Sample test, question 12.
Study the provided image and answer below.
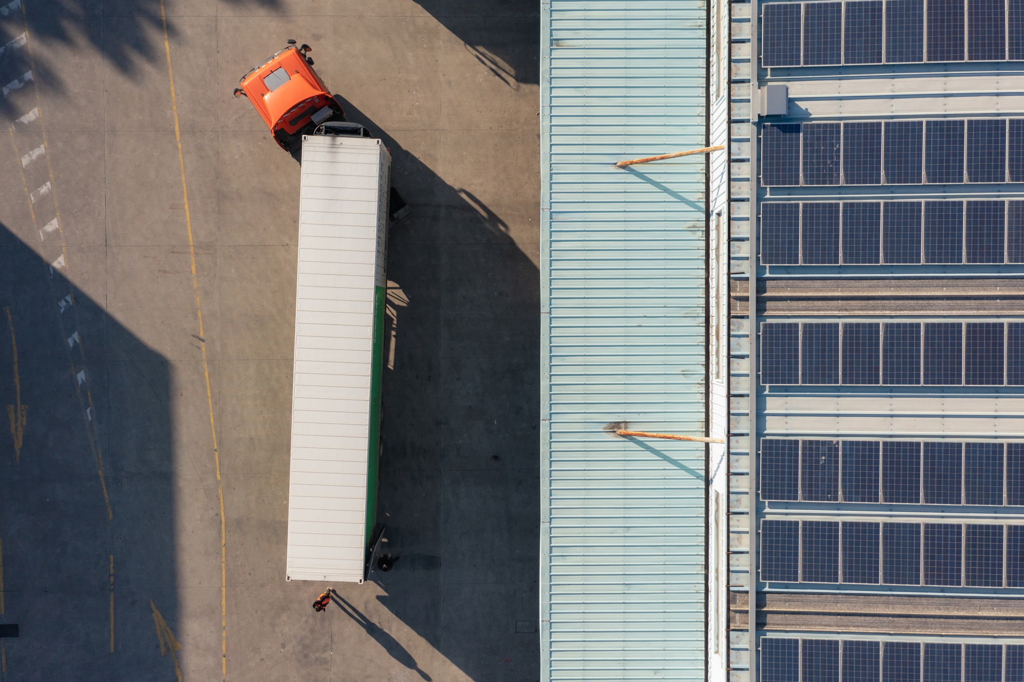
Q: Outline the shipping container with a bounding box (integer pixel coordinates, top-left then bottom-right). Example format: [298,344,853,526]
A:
[285,136,392,584]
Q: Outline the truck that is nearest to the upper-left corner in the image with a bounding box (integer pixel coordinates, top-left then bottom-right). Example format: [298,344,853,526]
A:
[231,33,353,164]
